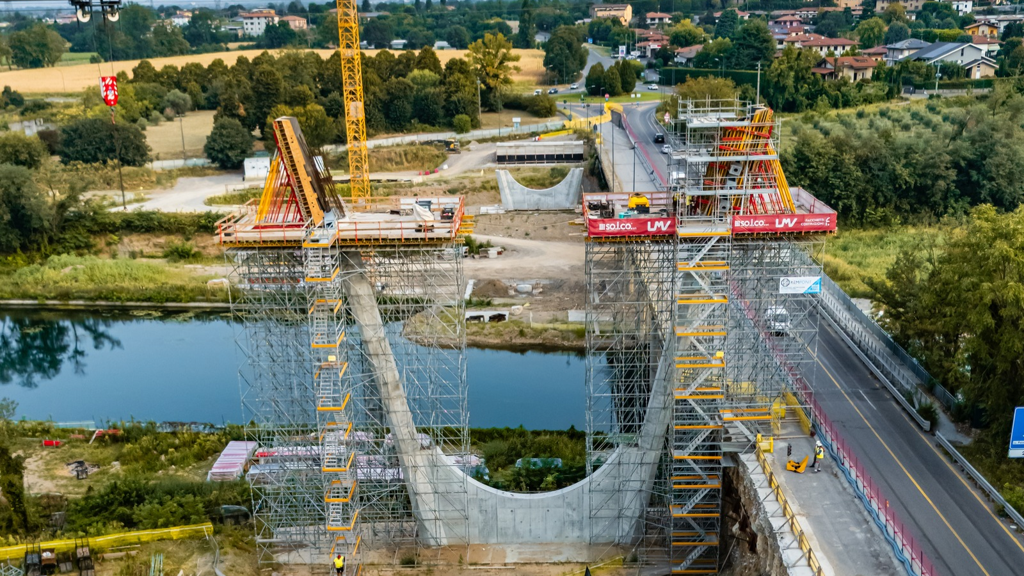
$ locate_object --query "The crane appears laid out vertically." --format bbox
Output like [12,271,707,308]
[339,0,394,304]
